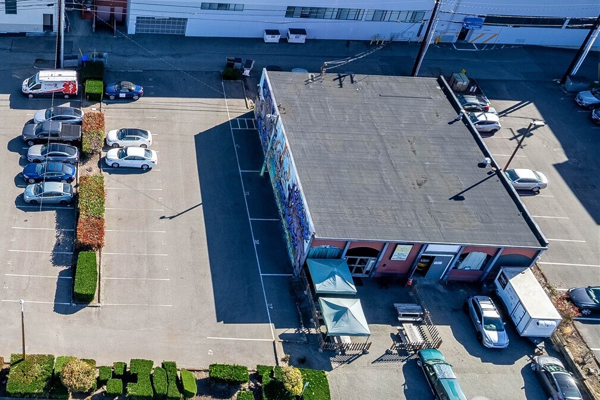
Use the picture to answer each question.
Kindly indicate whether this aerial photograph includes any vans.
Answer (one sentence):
Yes, a van appears in the view.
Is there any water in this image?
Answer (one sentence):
No, there's no water in this view.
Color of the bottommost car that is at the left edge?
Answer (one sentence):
From above, the bottommost car that is at the left edge appears blue.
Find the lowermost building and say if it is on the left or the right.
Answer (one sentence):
It is on the right.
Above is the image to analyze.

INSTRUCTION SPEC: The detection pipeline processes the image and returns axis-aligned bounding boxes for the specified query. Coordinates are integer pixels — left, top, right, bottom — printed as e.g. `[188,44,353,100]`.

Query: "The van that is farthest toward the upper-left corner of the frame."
[22,69,78,99]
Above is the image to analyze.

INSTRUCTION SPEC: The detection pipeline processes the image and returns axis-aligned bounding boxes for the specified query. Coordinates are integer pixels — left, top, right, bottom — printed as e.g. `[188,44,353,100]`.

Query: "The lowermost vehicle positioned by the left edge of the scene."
[24,183,74,208]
